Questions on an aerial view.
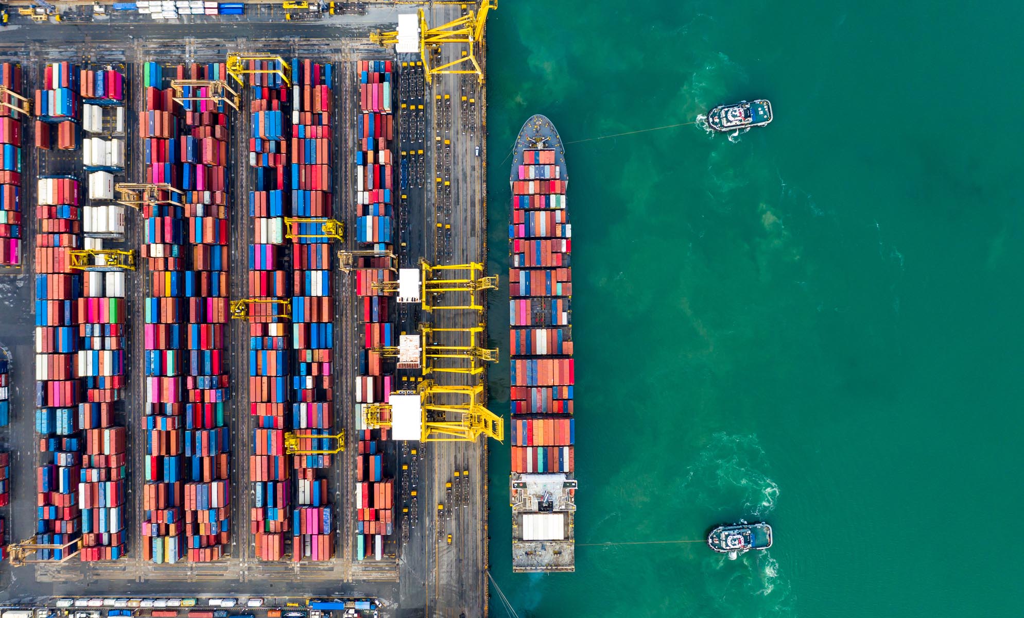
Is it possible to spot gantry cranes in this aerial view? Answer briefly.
Yes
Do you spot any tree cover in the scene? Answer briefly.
No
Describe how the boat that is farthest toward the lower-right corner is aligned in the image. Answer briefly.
from side to side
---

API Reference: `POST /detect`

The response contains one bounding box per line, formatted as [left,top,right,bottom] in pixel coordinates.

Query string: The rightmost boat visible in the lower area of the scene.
[707,525,773,553]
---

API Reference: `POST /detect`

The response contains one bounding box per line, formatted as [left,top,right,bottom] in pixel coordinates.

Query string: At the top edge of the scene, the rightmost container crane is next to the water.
[369,0,499,90]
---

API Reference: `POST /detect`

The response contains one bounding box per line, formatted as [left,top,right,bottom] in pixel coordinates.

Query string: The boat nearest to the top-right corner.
[706,101,774,132]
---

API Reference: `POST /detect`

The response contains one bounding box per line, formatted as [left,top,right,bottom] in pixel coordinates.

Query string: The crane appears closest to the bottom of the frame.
[7,530,84,566]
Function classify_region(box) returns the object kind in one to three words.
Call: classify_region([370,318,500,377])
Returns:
container crane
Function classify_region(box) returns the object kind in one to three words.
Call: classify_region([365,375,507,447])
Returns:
container crane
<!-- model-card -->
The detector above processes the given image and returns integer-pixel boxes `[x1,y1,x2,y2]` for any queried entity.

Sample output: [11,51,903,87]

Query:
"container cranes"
[365,375,507,447]
[115,184,189,213]
[229,296,292,322]
[284,216,348,244]
[226,53,293,89]
[7,530,84,566]
[370,318,500,377]
[370,256,499,318]
[284,425,348,457]
[171,80,243,114]
[68,248,141,274]
[369,0,499,90]
[339,250,399,276]
[0,84,32,118]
